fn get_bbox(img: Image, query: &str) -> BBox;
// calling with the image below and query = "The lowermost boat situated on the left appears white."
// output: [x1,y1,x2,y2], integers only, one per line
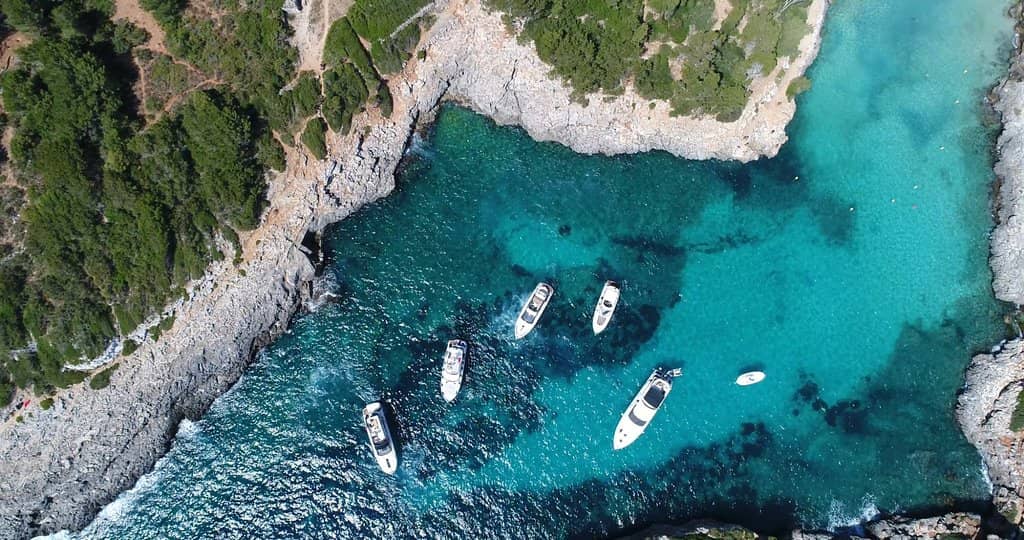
[364,402,402,491]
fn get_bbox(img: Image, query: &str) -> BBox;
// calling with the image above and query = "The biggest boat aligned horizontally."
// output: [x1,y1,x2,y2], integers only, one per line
[737,371,766,385]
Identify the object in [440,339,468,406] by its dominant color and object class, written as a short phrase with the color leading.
white boat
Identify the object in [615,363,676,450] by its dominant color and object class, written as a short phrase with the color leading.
white boat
